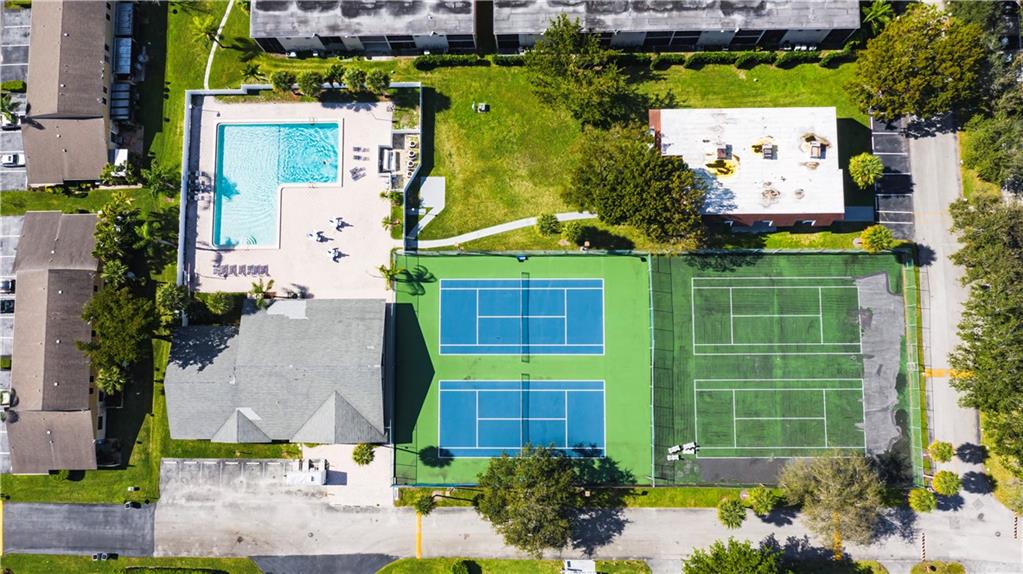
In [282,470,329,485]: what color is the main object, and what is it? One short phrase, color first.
white trailer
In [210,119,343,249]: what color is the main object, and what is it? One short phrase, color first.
white swimming pool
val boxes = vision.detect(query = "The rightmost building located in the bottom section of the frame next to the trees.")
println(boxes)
[164,299,387,443]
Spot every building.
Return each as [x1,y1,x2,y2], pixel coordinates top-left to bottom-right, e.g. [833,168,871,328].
[648,108,845,230]
[164,299,387,443]
[251,0,477,54]
[6,211,112,473]
[495,0,860,51]
[21,0,126,186]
